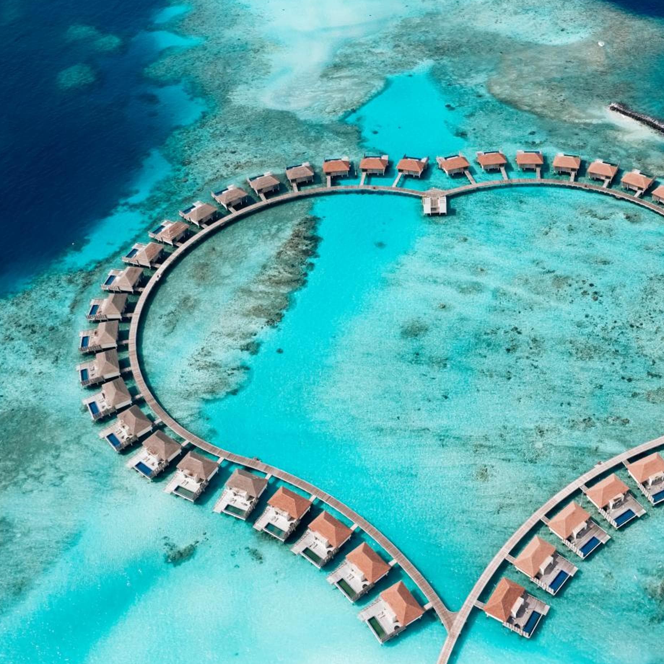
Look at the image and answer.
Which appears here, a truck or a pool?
pool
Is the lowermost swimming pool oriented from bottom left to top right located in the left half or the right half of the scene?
right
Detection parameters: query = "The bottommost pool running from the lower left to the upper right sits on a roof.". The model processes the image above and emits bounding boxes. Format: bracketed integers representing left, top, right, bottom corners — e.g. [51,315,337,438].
[521,611,541,635]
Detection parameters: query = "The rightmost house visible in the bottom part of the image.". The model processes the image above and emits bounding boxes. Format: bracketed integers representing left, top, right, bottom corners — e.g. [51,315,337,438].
[627,453,664,508]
